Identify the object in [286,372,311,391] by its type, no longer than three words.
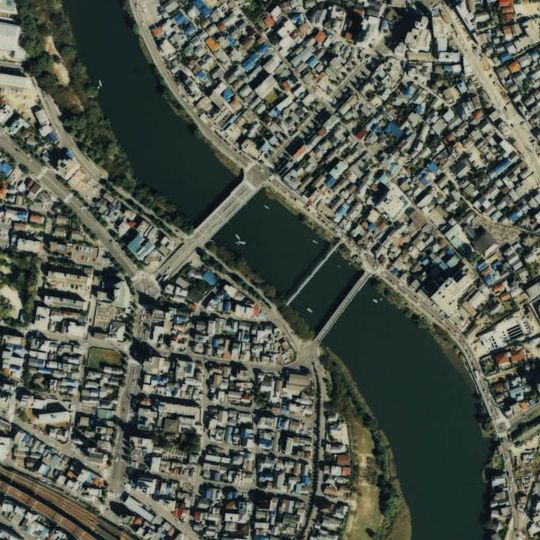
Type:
building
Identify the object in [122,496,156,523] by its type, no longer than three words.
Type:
building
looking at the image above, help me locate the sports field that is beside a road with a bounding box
[86,346,121,369]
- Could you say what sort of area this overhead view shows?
residential area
